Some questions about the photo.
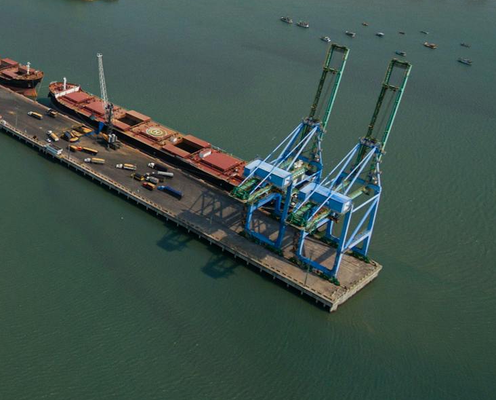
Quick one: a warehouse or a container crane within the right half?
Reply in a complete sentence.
It is a container crane that can be seen within the right half.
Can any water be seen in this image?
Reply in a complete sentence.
Yes, water can be seen from above here.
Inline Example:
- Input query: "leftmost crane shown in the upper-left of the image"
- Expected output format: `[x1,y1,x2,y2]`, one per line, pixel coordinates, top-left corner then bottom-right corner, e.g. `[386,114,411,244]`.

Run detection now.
[96,53,125,151]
